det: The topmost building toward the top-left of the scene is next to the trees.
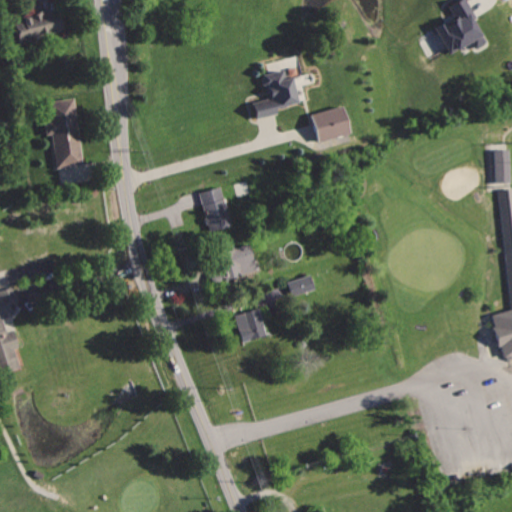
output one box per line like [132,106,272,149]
[16,6,58,40]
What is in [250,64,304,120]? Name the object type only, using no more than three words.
house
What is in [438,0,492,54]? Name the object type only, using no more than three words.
house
